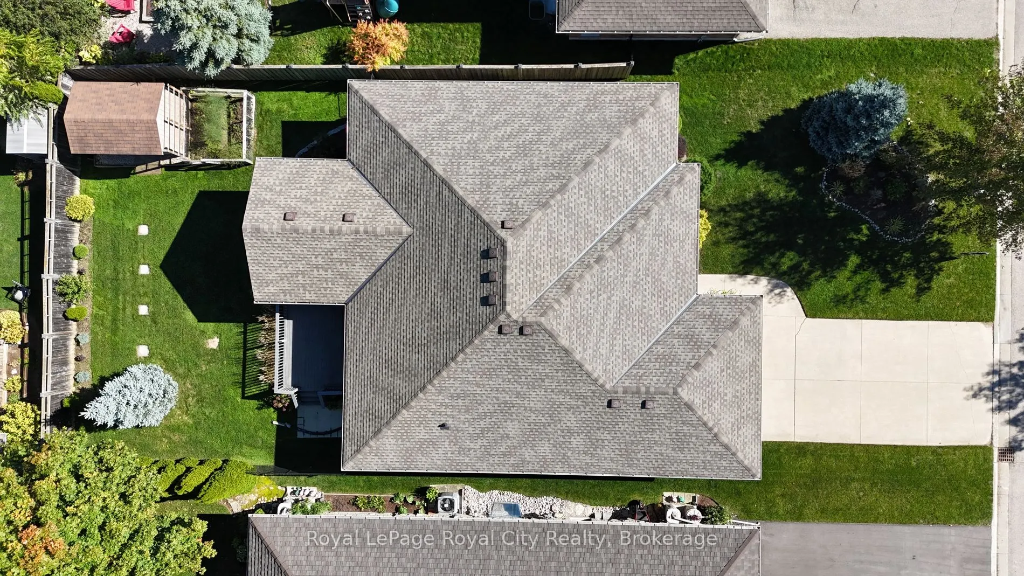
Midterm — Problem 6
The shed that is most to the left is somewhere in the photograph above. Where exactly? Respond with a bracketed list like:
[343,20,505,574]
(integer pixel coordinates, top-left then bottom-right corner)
[7,105,58,161]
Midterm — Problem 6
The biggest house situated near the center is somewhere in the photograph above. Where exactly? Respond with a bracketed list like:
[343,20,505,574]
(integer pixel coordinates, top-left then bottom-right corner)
[242,77,765,480]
